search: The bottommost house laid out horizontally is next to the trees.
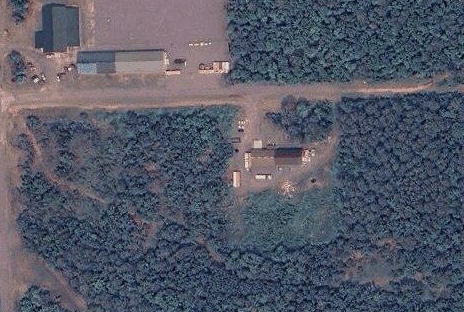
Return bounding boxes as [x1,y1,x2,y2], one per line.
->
[250,148,303,170]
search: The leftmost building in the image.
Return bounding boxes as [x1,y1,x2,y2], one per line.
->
[35,4,79,51]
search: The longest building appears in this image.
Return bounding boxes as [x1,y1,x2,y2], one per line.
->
[78,49,165,74]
